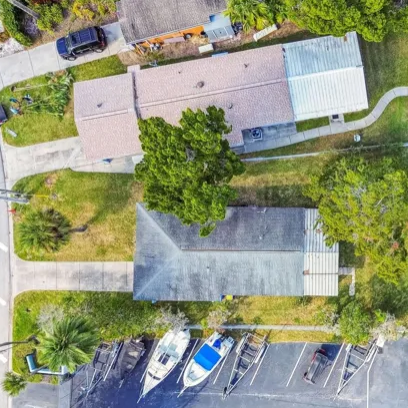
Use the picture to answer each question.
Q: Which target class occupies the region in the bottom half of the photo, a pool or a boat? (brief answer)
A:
boat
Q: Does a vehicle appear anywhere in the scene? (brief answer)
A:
Yes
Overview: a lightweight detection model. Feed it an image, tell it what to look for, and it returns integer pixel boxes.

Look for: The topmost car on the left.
[57,24,110,59]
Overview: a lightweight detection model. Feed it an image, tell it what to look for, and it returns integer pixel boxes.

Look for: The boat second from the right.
[182,330,236,390]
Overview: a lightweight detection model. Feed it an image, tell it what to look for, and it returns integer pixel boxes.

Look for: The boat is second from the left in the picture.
[139,326,194,404]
